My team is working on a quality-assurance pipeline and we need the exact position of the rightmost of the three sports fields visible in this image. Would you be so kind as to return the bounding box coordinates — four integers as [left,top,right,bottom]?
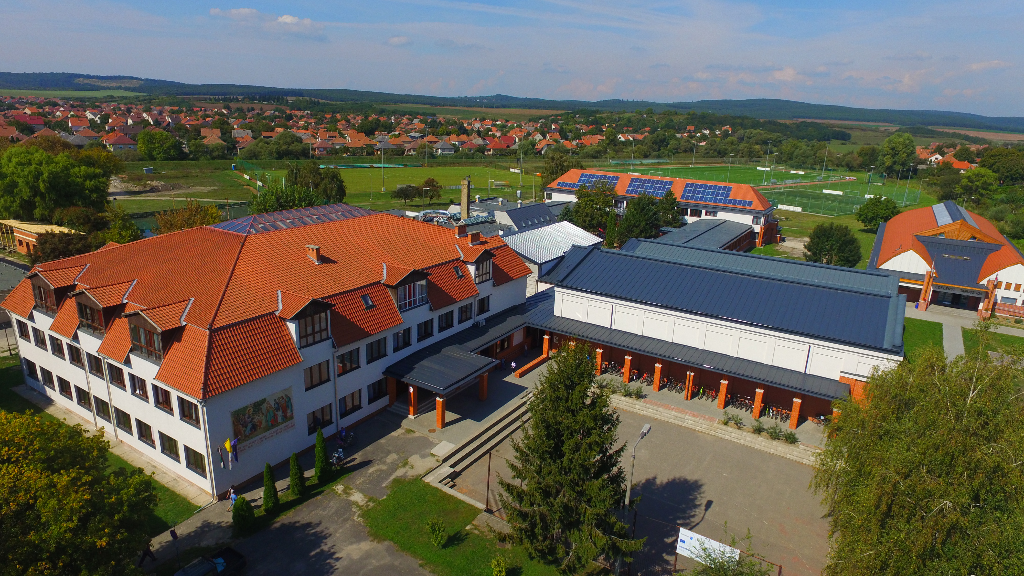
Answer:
[760,189,852,215]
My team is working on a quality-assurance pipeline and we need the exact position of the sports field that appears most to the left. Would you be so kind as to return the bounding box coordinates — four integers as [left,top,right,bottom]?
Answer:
[246,167,554,194]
